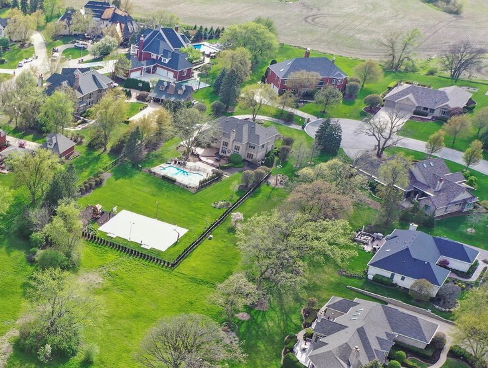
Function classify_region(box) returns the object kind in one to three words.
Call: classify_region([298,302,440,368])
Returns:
house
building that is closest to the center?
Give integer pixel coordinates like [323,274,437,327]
[218,121,289,164]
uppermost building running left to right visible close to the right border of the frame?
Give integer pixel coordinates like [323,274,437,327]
[381,79,480,121]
